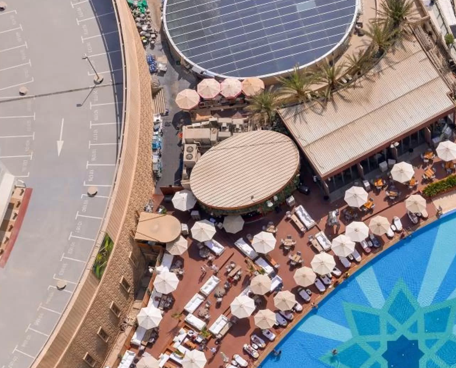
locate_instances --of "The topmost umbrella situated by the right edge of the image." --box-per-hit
[435,143,456,163]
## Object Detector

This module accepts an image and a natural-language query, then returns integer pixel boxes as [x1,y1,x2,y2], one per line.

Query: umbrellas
[255,308,277,329]
[177,90,200,112]
[182,349,208,368]
[220,80,242,100]
[174,191,197,212]
[191,220,217,242]
[138,358,159,368]
[391,163,415,185]
[139,307,163,331]
[369,217,390,237]
[294,268,315,287]
[197,79,220,101]
[405,196,425,217]
[230,295,255,319]
[311,253,336,276]
[330,235,356,257]
[250,276,271,296]
[435,143,456,163]
[343,186,368,209]
[345,220,369,243]
[273,292,295,311]
[155,271,179,293]
[166,238,187,257]
[223,215,244,236]
[252,233,277,255]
